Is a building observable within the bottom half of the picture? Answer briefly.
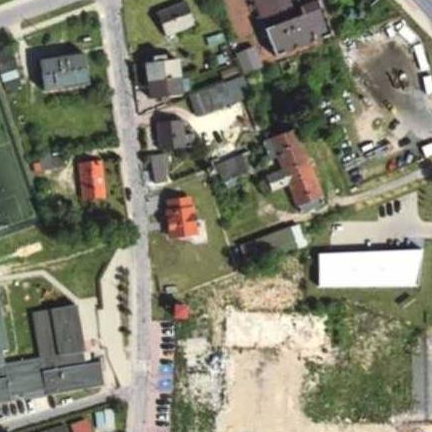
Yes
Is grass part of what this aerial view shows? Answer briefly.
Yes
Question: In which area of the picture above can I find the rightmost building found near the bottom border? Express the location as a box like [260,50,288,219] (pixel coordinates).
[94,410,116,430]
